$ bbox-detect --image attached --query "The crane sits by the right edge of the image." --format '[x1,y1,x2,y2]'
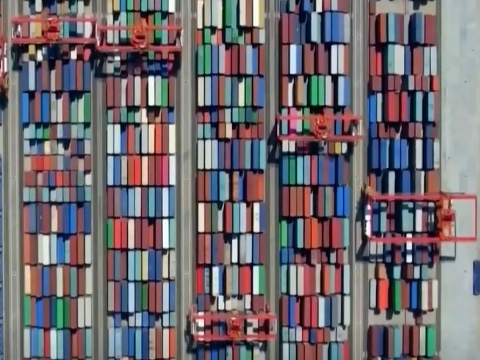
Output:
[357,188,477,245]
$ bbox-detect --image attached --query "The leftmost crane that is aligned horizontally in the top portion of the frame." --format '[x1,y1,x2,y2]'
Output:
[7,12,101,55]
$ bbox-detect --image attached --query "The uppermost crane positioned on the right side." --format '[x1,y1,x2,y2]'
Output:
[271,105,366,148]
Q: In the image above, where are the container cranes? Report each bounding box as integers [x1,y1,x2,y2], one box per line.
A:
[188,297,279,344]
[271,105,366,148]
[7,12,101,55]
[357,188,477,245]
[93,19,185,63]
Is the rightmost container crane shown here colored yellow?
No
